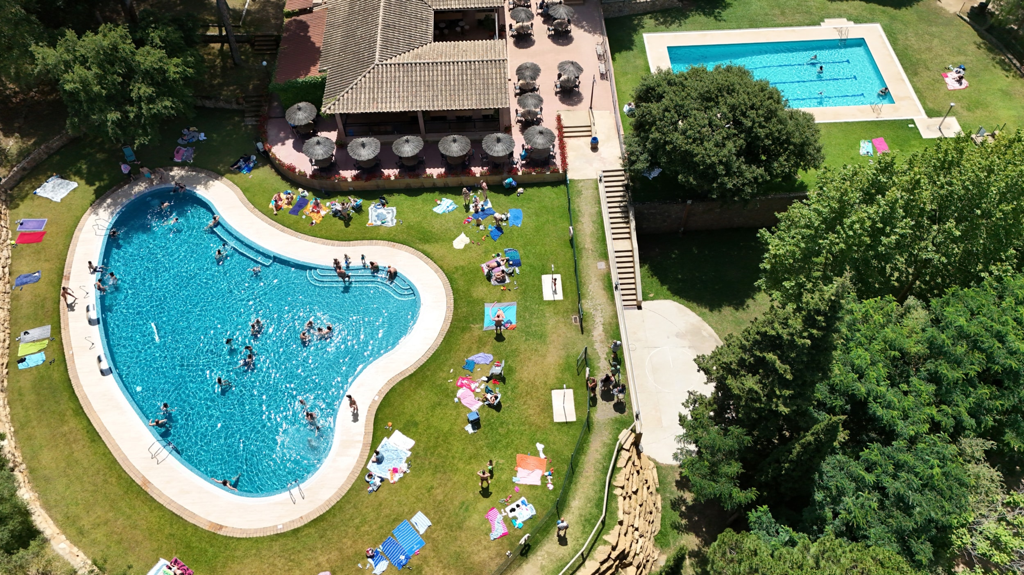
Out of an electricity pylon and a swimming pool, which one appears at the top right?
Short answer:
swimming pool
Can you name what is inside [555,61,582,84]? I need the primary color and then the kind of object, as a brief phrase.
gray umbrella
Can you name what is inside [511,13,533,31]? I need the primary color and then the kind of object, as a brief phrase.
gray umbrella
